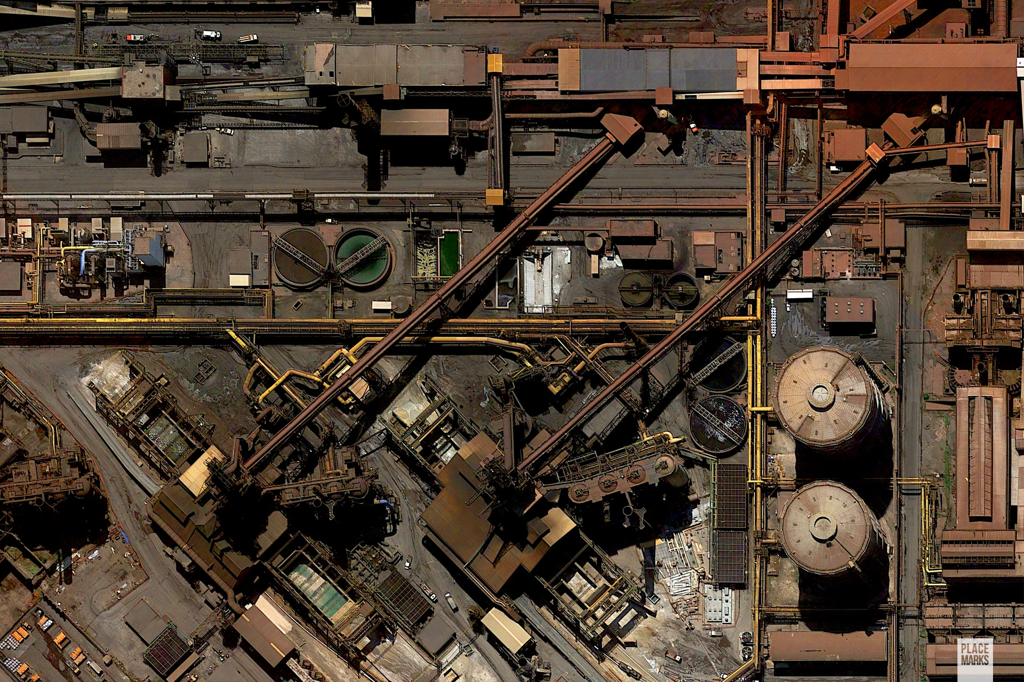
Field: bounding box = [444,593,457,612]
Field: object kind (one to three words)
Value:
vehicle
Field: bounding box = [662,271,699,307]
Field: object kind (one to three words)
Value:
storage tank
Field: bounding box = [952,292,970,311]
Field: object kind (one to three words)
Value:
chimney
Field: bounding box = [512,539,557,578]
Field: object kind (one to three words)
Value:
building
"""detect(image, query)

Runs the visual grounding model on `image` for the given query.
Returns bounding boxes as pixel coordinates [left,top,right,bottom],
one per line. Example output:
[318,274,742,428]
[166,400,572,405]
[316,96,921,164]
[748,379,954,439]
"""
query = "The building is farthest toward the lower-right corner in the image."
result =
[926,644,1024,677]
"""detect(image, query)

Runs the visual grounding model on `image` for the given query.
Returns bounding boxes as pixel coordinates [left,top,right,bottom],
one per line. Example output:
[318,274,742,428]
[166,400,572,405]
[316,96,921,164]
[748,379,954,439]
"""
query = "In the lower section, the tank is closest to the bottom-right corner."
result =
[779,481,884,587]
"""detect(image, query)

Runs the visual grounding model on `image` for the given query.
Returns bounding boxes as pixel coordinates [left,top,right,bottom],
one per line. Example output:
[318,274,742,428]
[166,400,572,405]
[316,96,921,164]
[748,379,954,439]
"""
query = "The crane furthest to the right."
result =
[571,569,622,621]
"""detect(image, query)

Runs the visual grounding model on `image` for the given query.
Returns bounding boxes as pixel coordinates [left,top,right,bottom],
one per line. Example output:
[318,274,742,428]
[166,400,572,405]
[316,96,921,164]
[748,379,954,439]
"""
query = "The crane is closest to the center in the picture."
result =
[413,409,466,460]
